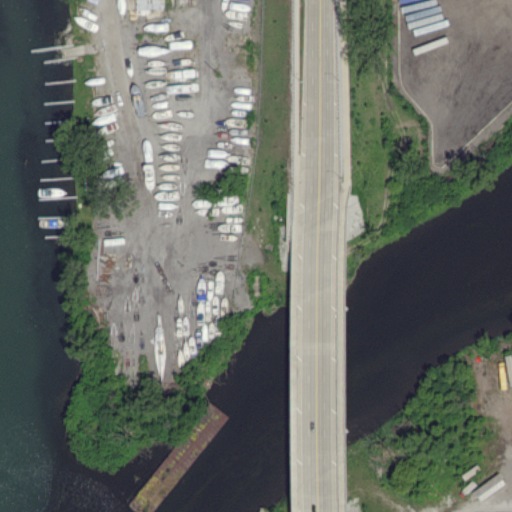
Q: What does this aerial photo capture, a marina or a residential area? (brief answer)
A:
marina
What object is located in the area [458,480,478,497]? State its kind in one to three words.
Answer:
vehicle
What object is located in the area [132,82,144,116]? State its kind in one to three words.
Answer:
boat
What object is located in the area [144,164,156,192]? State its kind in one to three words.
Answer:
boat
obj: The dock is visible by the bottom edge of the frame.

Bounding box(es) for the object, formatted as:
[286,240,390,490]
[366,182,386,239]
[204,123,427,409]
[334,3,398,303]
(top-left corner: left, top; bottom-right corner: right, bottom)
[124,403,228,512]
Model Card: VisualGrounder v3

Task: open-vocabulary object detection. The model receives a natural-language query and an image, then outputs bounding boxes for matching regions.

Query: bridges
[290,186,350,512]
